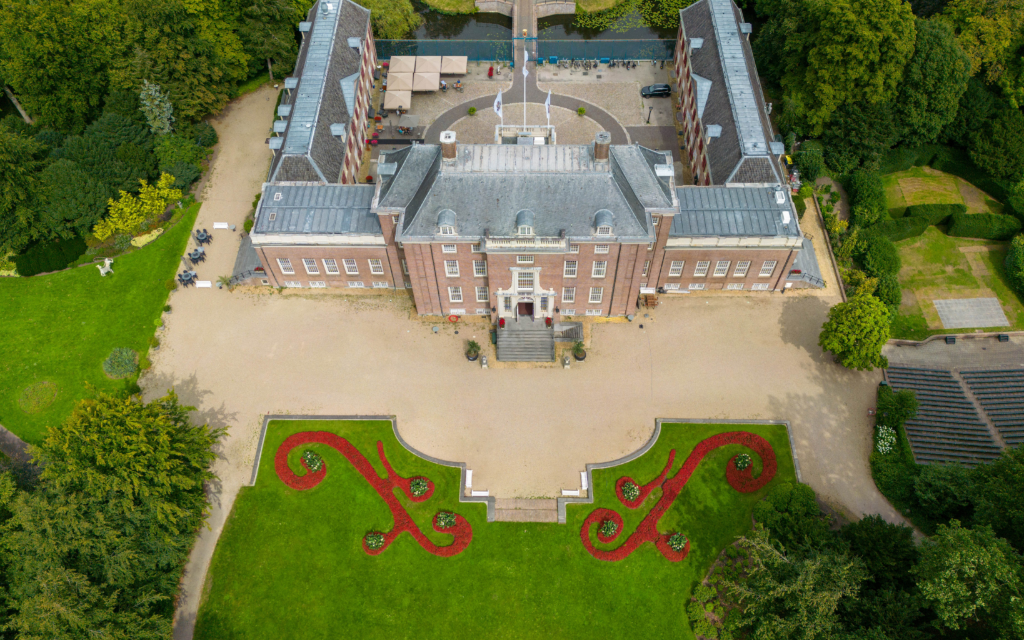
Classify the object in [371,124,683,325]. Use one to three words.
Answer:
building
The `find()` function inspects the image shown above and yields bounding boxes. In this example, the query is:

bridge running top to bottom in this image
[512,0,537,63]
